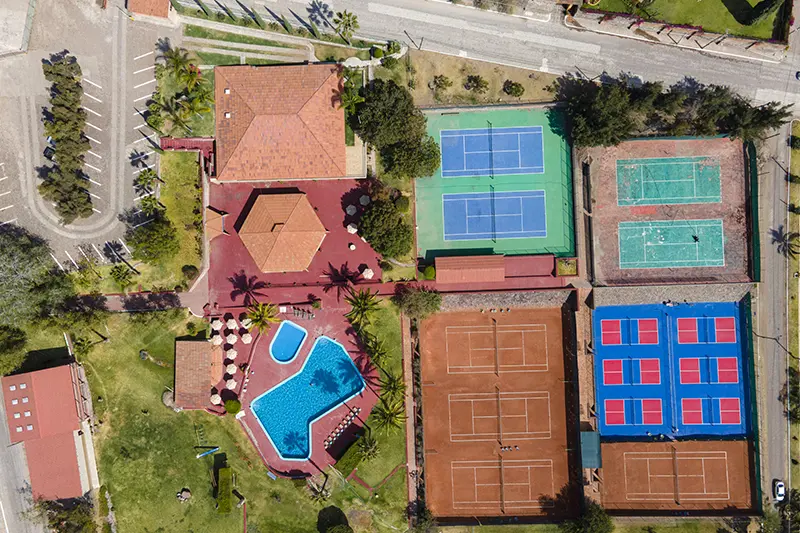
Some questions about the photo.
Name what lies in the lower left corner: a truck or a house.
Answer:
house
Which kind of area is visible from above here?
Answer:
sports ground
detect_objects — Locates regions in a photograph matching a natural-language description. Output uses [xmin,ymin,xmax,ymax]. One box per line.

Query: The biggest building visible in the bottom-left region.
[2,363,105,503]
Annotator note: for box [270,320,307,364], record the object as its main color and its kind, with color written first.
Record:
blue swimming pool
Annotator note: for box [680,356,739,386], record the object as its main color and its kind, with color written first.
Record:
red sports court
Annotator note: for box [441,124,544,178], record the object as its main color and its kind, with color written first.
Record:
blue tennis court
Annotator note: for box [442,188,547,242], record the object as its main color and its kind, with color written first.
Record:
blue tennis court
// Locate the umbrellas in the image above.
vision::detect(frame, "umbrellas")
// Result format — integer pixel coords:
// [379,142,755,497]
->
[212,334,223,345]
[227,379,237,389]
[227,334,238,344]
[242,333,252,344]
[227,318,238,329]
[211,393,222,403]
[360,195,370,206]
[227,349,238,359]
[212,320,223,330]
[348,222,357,233]
[347,205,356,216]
[363,268,373,279]
[227,363,238,374]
